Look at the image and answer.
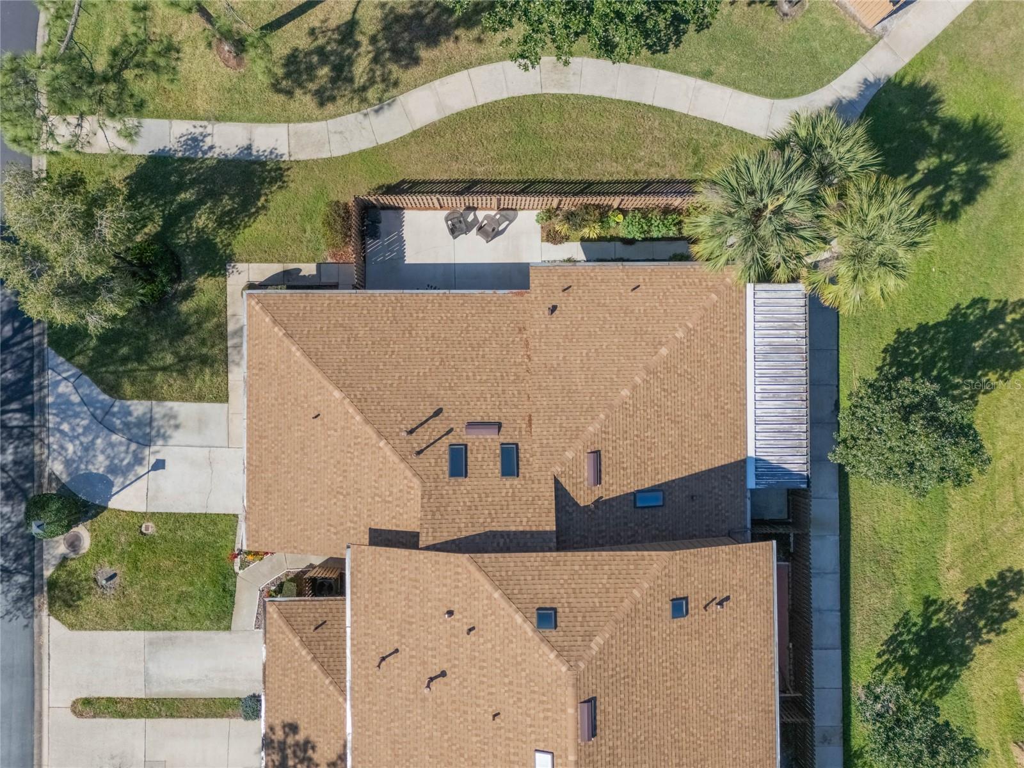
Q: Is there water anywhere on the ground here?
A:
No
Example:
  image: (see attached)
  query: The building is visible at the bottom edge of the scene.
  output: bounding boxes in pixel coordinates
[261,539,780,768]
